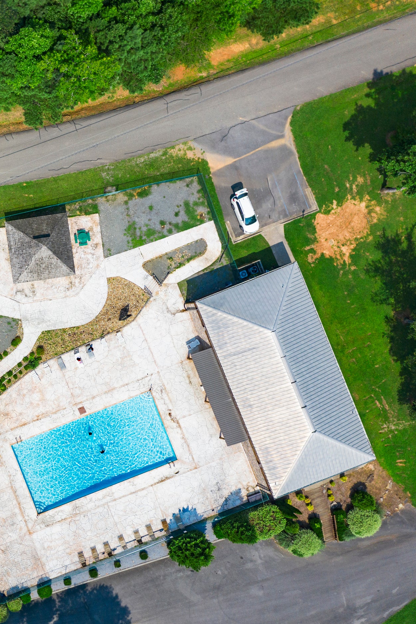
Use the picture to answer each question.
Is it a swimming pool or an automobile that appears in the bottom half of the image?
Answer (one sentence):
There is a swimming pool in the bottom half of the image.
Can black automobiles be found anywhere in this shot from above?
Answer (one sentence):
No, this view has no black automobile in it.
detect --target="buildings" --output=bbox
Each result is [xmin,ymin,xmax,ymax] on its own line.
[4,212,76,284]
[186,260,377,500]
